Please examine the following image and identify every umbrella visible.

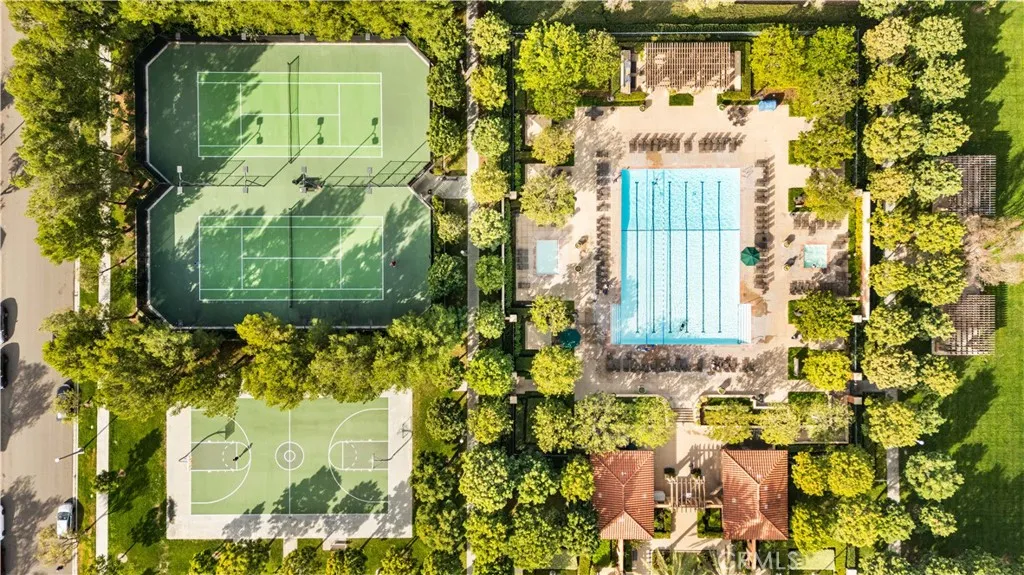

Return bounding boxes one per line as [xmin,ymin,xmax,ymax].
[739,247,758,266]
[559,327,580,348]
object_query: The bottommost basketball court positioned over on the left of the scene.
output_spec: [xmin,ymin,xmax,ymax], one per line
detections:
[166,390,412,540]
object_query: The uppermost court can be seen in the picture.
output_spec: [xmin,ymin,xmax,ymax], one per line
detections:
[148,44,427,187]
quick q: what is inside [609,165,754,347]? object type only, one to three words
swimming pool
